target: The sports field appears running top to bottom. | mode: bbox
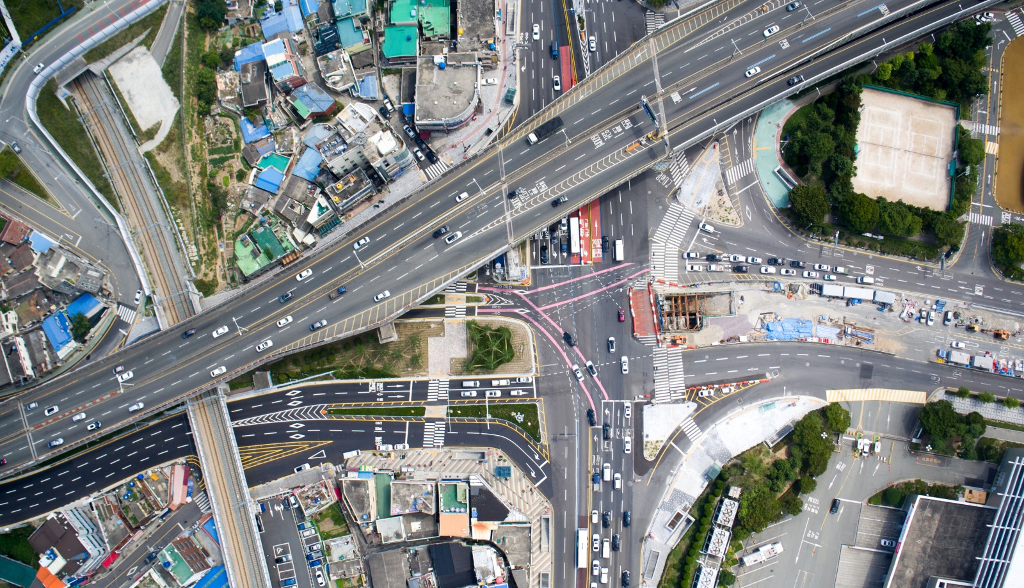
[995,35,1024,214]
